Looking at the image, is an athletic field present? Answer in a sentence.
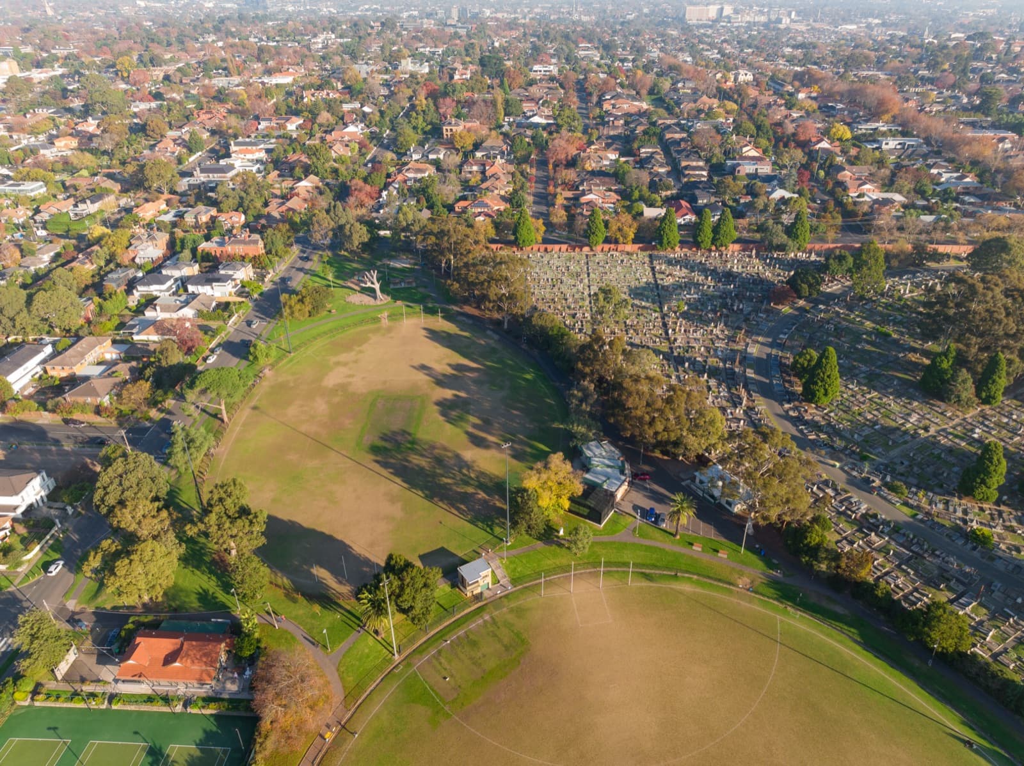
Yes, the photo shows an athletic field.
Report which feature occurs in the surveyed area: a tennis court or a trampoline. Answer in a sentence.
It is a tennis court that can be seen here.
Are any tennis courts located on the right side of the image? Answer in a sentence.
No, I see no tennis court on the right side of the image.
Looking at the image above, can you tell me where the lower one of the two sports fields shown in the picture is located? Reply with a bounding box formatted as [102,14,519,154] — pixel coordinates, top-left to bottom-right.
[302,569,1024,766]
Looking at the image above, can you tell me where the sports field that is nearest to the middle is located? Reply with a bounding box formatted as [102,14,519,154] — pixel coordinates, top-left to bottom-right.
[211,315,570,595]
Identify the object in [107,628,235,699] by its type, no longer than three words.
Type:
building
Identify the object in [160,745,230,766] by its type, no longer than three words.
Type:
tennis court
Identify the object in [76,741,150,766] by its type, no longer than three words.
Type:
tennis court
